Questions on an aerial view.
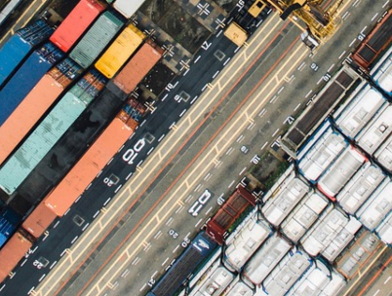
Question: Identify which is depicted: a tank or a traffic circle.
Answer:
tank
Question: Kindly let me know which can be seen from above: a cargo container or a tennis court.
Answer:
cargo container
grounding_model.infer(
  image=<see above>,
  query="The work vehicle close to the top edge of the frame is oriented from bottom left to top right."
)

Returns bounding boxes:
[226,0,272,43]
